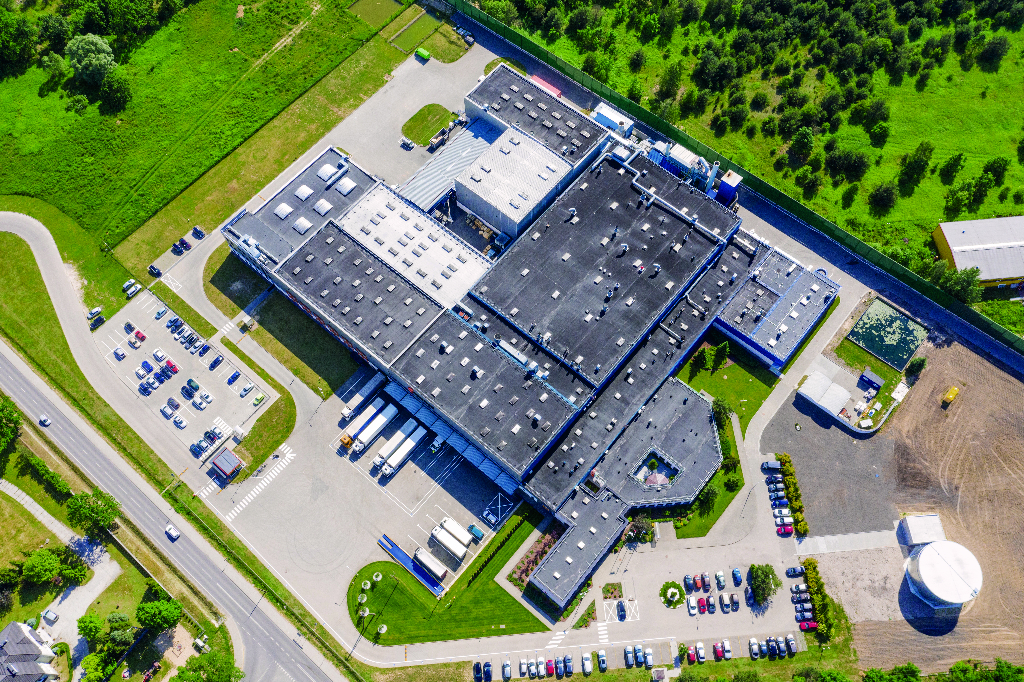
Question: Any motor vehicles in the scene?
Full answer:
Yes, there's a motor vehicle down there.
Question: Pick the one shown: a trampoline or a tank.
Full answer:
Visible in the photo is a tank.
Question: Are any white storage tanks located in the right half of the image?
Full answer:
Yes, a white storage tank shows up in the right half of the image.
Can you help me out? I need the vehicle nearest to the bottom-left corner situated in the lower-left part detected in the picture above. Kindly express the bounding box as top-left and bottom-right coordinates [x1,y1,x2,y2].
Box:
[43,609,60,622]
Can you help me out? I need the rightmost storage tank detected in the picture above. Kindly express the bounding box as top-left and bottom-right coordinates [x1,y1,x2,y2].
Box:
[903,541,983,611]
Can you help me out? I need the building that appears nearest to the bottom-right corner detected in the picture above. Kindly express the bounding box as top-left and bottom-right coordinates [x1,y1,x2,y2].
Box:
[900,514,947,549]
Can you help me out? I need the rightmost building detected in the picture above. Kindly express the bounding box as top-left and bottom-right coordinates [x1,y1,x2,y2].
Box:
[932,217,1024,280]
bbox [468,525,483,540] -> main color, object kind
blue car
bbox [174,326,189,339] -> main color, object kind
white vehicle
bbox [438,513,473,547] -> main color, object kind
white truck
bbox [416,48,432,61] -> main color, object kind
green vehicle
